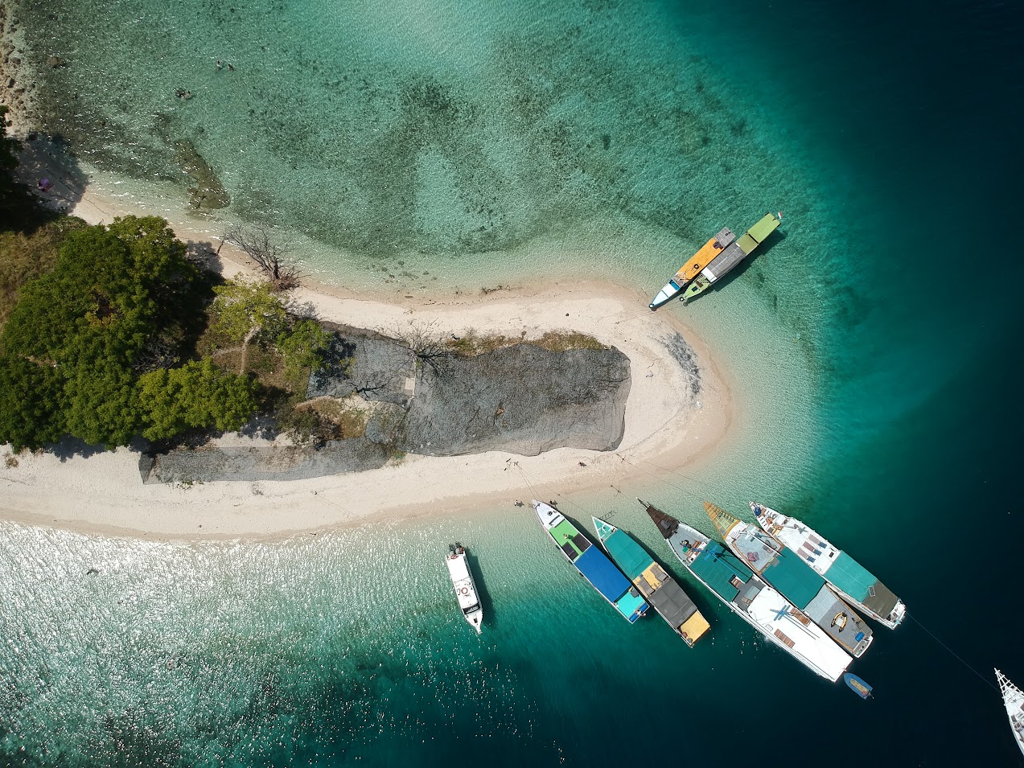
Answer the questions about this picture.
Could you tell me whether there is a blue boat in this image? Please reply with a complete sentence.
Yes, you can see a blue boat in this photo.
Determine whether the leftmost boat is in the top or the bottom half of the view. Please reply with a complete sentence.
The leftmost boat is in the bottom half of the image.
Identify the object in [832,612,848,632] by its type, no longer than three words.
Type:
boat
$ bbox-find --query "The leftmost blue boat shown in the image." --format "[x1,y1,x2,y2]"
[532,500,650,624]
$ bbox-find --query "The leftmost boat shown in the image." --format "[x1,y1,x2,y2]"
[446,538,483,633]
